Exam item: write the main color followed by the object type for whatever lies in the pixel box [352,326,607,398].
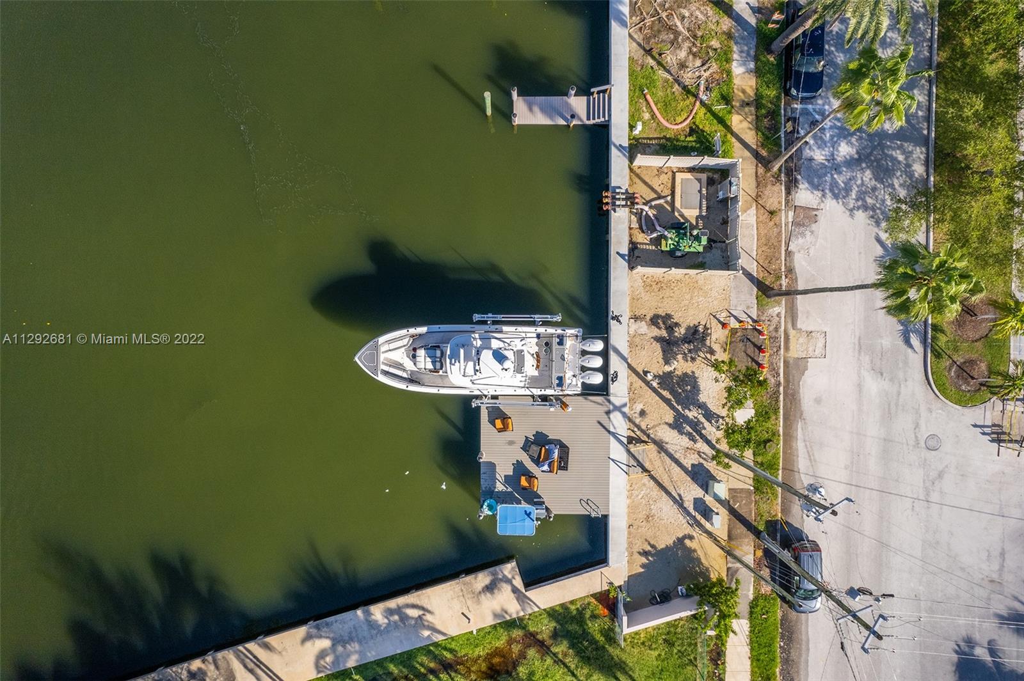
white boat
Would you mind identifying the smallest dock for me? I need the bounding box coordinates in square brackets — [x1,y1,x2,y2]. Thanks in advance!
[512,84,612,131]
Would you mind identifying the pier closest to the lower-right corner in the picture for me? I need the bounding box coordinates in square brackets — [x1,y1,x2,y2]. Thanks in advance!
[477,394,608,523]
